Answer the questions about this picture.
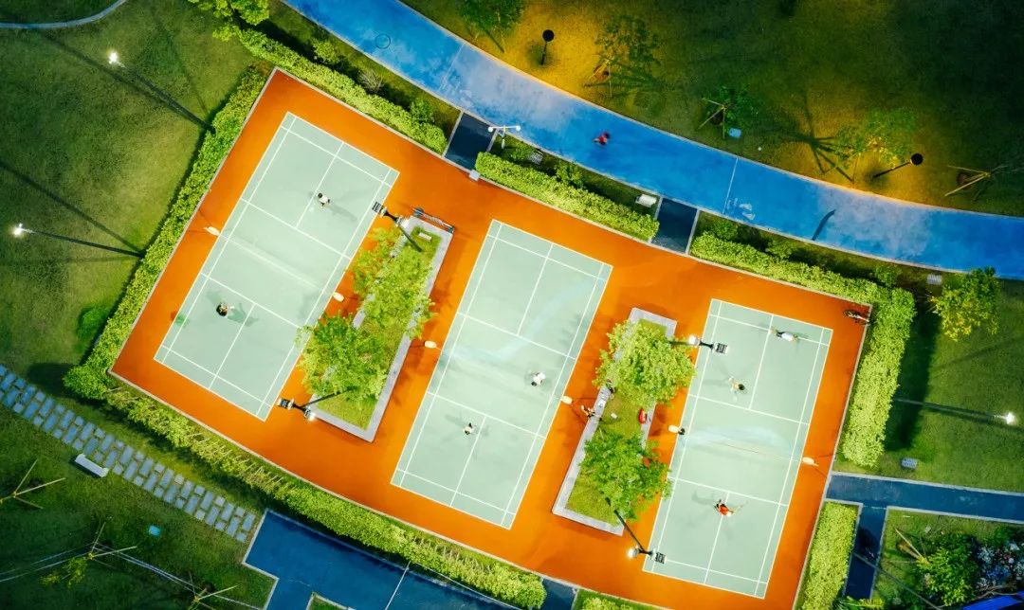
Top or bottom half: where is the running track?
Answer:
top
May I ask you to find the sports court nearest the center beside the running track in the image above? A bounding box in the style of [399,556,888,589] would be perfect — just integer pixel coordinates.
[392,221,611,528]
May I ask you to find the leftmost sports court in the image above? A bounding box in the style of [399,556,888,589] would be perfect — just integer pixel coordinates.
[155,113,398,419]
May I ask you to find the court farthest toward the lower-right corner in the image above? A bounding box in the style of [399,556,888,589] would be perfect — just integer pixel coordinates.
[642,299,834,601]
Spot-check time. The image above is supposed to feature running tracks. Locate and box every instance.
[282,0,1024,282]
